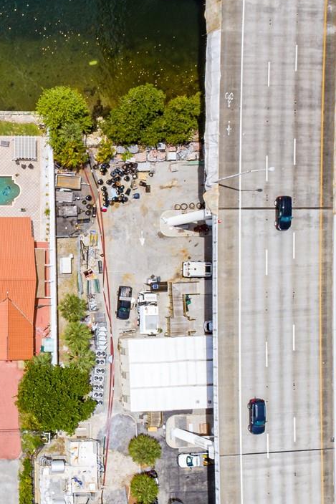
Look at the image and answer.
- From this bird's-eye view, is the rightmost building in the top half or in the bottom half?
bottom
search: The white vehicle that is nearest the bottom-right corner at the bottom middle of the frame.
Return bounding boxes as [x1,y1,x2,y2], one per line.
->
[172,454,212,470]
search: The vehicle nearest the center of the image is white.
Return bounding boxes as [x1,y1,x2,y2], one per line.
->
[178,262,213,278]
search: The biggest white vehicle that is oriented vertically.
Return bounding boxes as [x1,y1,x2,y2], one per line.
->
[137,286,160,337]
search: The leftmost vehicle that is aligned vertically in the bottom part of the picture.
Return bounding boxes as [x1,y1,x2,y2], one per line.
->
[114,284,132,321]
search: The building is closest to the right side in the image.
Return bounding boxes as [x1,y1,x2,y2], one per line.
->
[120,333,214,412]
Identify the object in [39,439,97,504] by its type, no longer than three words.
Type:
building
